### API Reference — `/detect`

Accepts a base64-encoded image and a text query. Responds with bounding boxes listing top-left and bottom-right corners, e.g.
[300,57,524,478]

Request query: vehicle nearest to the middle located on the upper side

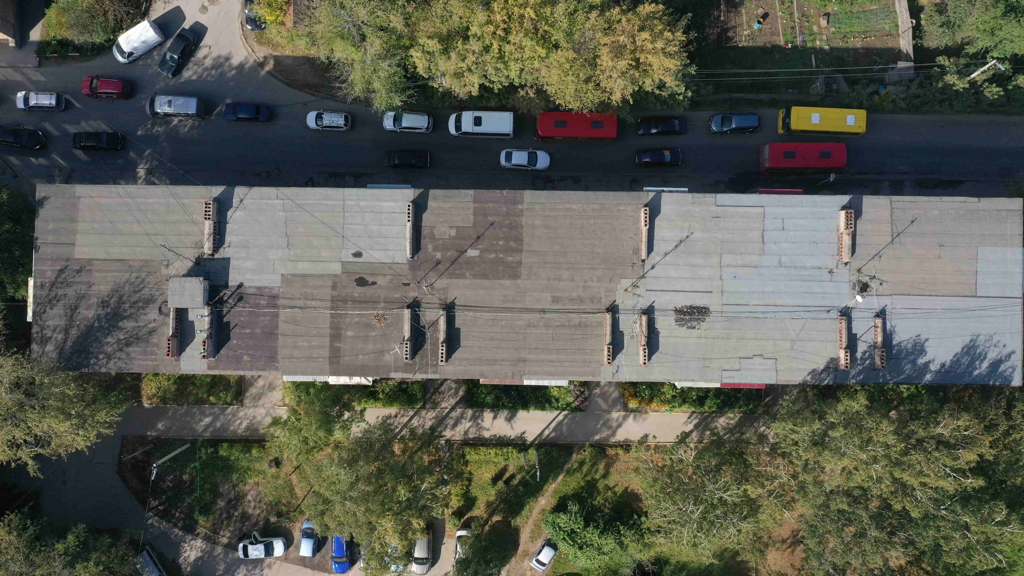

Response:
[501,147,551,171]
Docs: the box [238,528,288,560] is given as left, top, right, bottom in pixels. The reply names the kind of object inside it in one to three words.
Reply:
car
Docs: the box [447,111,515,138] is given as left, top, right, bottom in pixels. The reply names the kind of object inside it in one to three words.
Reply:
vehicle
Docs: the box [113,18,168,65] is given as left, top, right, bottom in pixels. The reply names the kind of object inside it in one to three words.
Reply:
van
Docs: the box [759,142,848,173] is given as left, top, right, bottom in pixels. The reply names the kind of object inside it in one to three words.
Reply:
vehicle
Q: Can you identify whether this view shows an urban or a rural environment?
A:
urban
